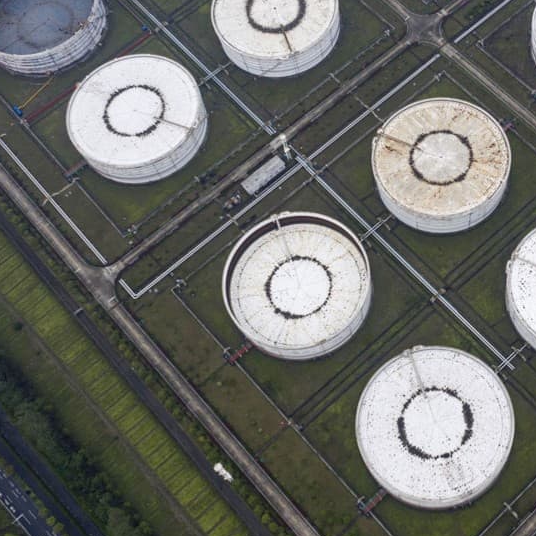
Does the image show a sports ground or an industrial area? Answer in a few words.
industrial area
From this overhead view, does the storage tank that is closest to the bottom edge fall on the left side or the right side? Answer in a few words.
right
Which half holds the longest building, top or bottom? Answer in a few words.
top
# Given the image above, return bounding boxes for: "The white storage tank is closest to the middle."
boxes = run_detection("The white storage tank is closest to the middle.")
[220,209,375,362]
